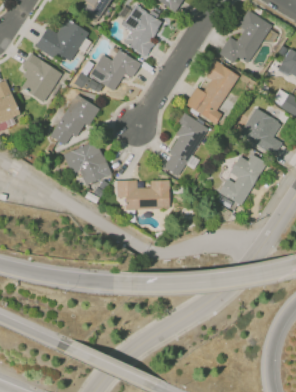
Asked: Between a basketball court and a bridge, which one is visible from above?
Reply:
bridge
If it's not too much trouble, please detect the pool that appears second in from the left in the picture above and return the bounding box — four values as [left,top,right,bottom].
[93,39,111,60]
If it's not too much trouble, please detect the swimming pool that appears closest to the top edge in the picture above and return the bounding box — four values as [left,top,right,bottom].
[111,22,124,41]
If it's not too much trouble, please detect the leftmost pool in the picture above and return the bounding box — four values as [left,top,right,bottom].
[62,56,82,72]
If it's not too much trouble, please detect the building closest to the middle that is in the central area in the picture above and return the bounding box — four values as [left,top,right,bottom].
[118,180,172,210]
